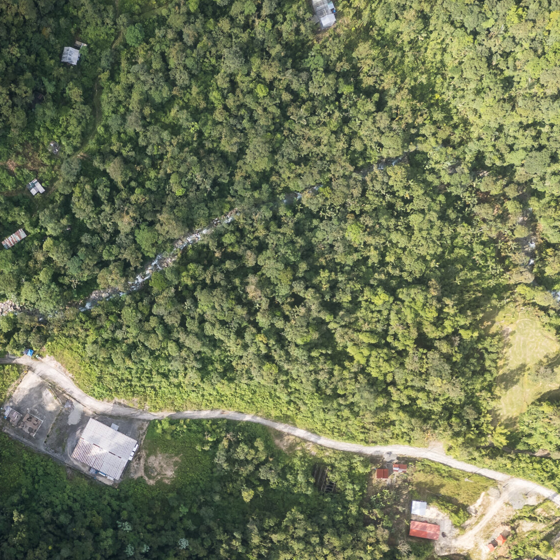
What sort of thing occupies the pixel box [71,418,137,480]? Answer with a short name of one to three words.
building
